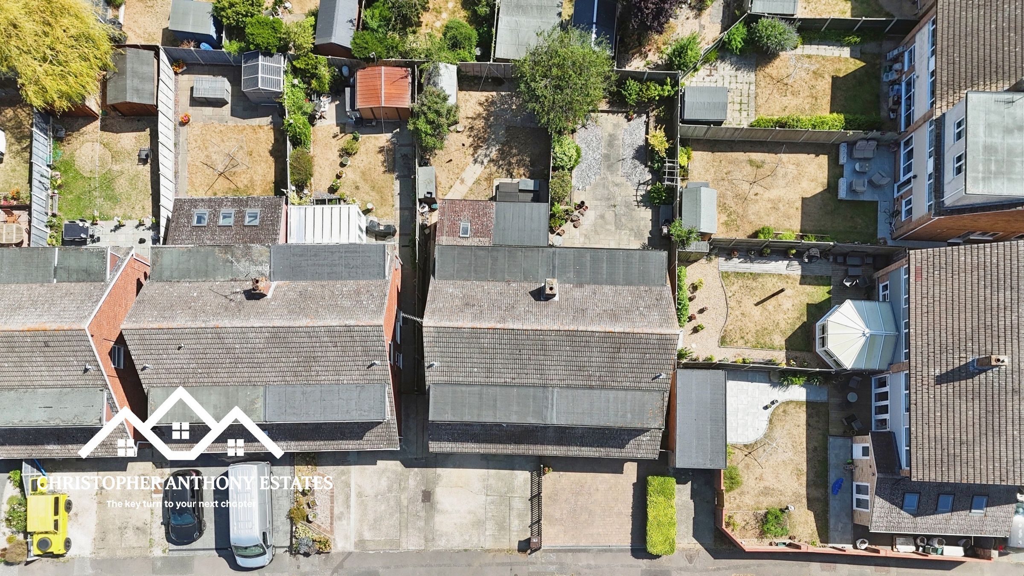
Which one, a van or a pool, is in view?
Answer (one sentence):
Of the two, only a van appears.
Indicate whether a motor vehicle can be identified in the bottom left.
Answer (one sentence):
Yes, I can see a motor vehicle in the bottom left.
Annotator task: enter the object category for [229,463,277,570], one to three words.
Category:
van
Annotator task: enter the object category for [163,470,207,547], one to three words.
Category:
car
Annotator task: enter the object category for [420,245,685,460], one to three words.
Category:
house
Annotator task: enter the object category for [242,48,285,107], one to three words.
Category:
building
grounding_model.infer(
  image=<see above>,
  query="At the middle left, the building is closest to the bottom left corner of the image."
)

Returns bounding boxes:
[0,241,153,453]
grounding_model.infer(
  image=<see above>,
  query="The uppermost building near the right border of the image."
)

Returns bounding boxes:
[890,0,1024,240]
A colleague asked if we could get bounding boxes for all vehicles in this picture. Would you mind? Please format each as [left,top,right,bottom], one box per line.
[163,470,207,547]
[1000,483,1024,557]
[27,480,76,559]
[229,463,277,570]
